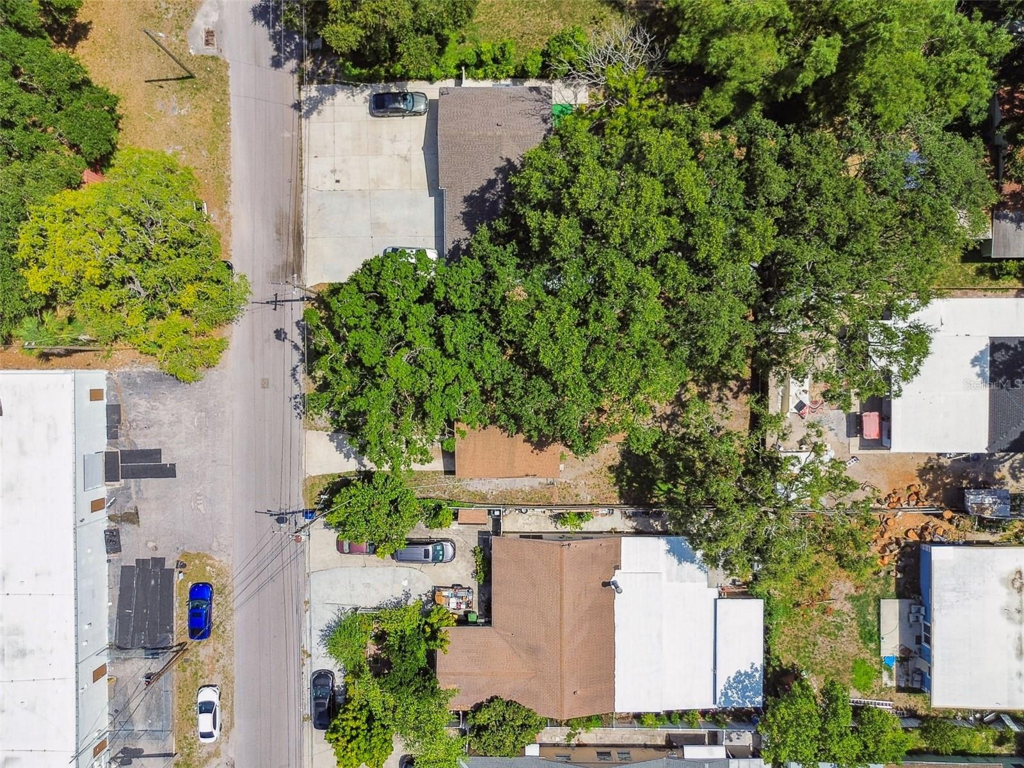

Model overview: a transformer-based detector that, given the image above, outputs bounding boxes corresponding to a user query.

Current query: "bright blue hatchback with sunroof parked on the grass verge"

[185,582,216,640]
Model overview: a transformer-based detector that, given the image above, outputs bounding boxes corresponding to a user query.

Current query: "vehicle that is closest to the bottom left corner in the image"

[193,683,225,744]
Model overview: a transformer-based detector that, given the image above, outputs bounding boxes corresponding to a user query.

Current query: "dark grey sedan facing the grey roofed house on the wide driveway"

[369,88,428,119]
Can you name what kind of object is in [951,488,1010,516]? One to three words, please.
shed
